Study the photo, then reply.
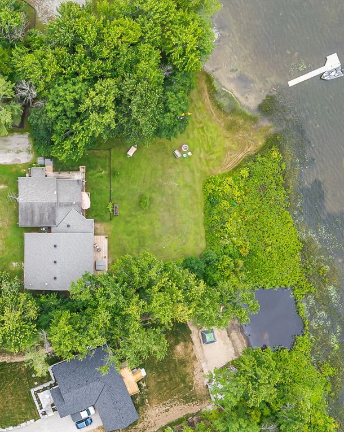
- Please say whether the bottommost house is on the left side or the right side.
left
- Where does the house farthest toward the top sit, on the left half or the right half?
left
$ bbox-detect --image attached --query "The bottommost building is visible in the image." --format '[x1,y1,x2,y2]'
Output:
[50,344,144,431]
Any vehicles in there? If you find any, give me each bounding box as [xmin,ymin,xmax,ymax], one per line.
[75,416,93,429]
[70,406,95,422]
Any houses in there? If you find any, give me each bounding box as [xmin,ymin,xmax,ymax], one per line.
[7,165,108,291]
[50,344,144,431]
